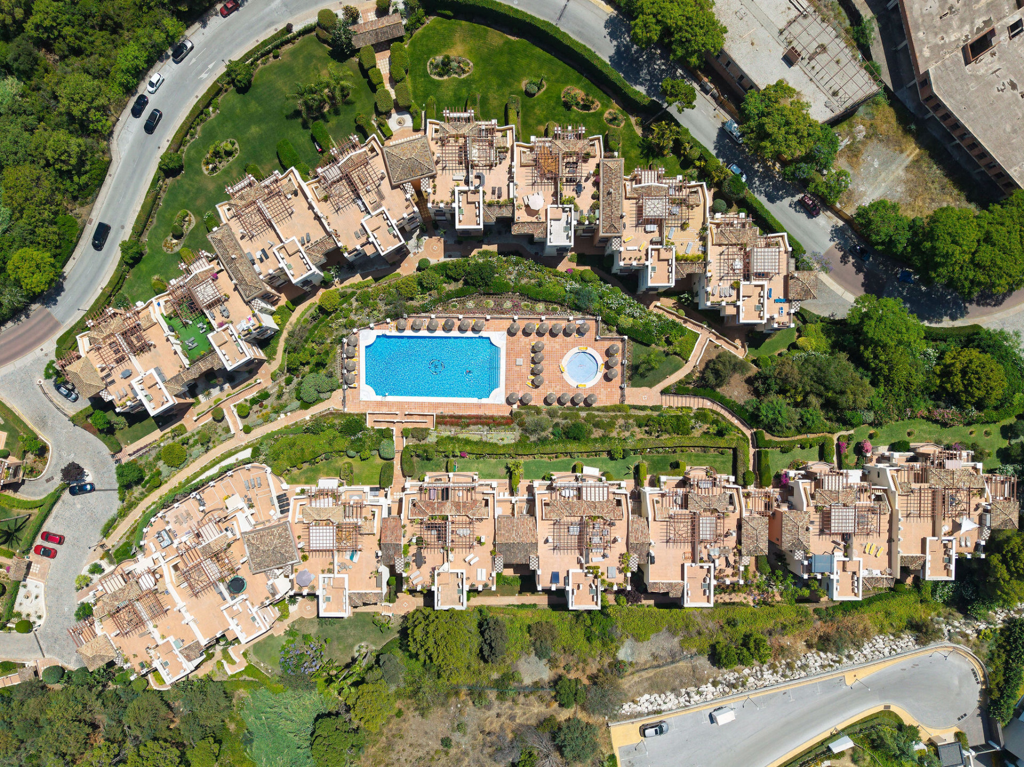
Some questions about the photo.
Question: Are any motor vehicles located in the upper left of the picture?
Yes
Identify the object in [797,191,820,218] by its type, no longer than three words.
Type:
car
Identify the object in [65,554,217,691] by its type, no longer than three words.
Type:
house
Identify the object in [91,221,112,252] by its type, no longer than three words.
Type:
vehicle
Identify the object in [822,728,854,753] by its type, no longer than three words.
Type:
building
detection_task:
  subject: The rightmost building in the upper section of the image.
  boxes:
[882,0,1024,206]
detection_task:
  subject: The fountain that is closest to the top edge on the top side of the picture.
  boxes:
[392,113,408,130]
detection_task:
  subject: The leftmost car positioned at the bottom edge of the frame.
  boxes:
[639,720,669,739]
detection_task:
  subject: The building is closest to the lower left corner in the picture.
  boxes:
[18,660,45,683]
